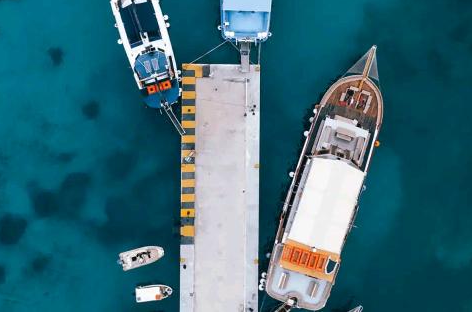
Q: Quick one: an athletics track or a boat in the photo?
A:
boat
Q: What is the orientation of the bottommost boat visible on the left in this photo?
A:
horizontally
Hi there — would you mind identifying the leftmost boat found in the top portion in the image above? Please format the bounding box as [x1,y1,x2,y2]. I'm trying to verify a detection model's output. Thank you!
[111,0,186,136]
